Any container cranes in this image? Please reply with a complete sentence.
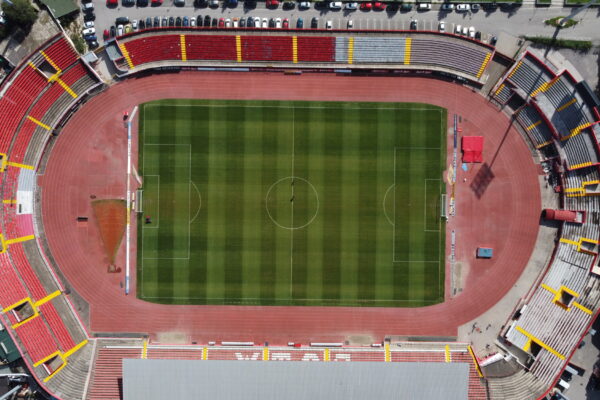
No, there isn't any container crane down there.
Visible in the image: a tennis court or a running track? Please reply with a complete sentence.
Of the two, only a running track appears.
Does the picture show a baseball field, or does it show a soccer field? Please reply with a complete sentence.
There is a soccer field in the scene.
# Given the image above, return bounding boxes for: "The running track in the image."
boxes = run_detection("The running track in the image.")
[40,72,544,346]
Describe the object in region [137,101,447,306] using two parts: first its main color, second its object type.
green soccer field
